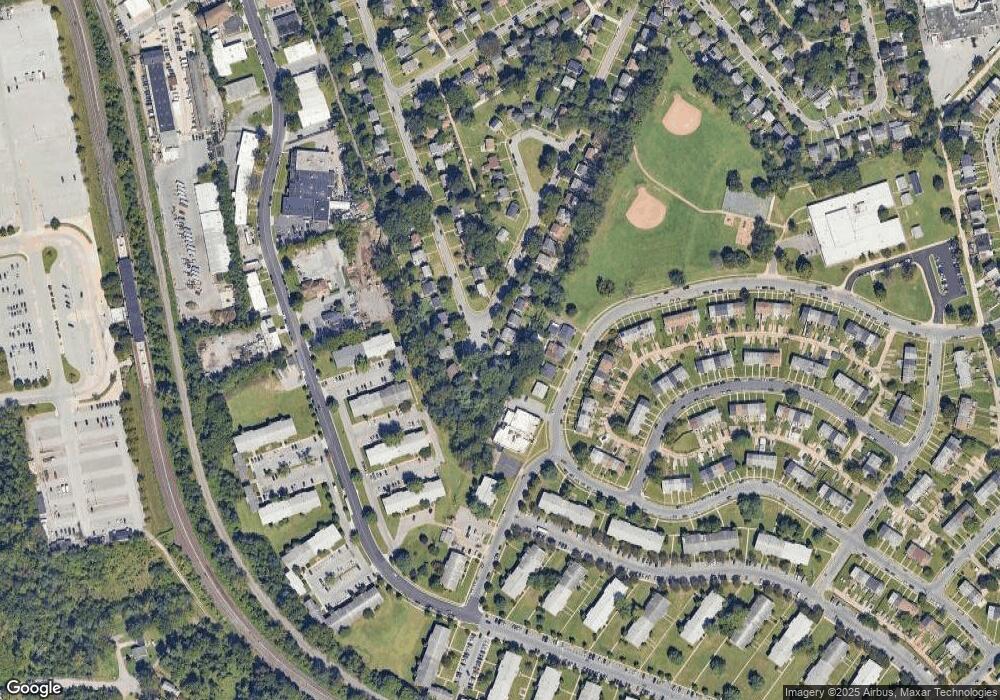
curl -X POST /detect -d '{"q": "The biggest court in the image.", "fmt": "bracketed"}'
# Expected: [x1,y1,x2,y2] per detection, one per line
[724,187,773,218]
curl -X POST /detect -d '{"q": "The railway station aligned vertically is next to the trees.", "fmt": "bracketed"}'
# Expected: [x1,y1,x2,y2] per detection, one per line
[109,235,150,387]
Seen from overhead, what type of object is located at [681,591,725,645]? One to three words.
building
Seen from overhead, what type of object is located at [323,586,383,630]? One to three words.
building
